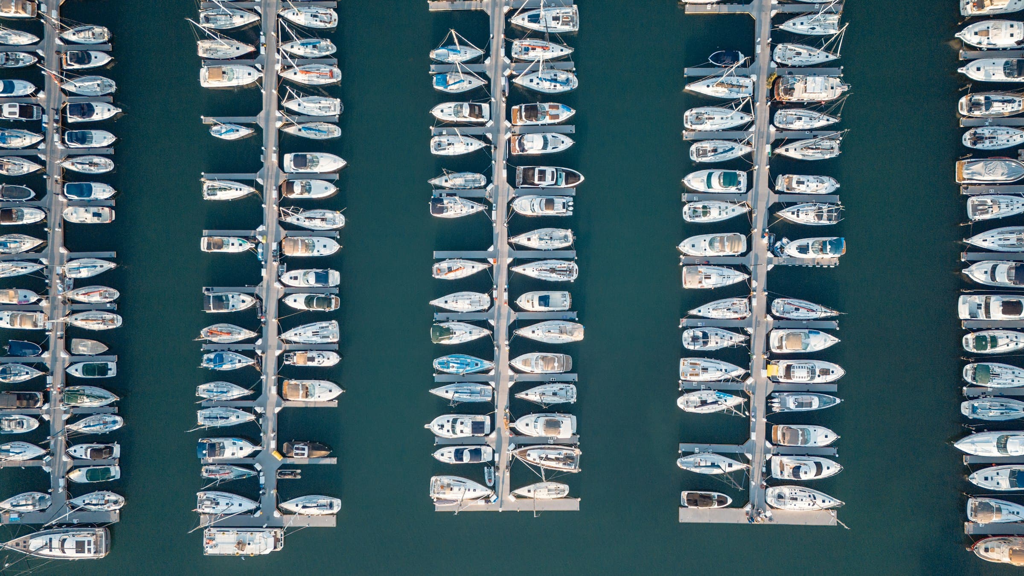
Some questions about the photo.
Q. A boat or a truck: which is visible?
boat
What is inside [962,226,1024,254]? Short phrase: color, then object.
white boat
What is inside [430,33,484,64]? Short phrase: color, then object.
white boat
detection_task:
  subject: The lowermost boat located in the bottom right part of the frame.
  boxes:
[968,533,1024,566]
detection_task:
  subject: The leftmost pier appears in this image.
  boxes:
[0,0,121,524]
